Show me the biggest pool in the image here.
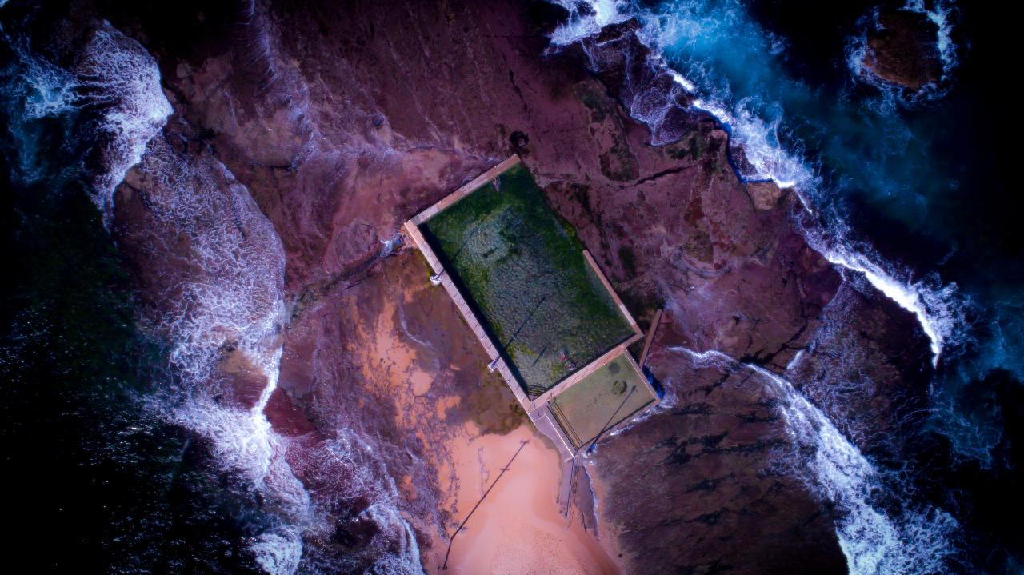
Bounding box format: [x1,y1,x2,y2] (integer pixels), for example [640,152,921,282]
[404,156,644,414]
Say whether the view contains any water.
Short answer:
Yes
